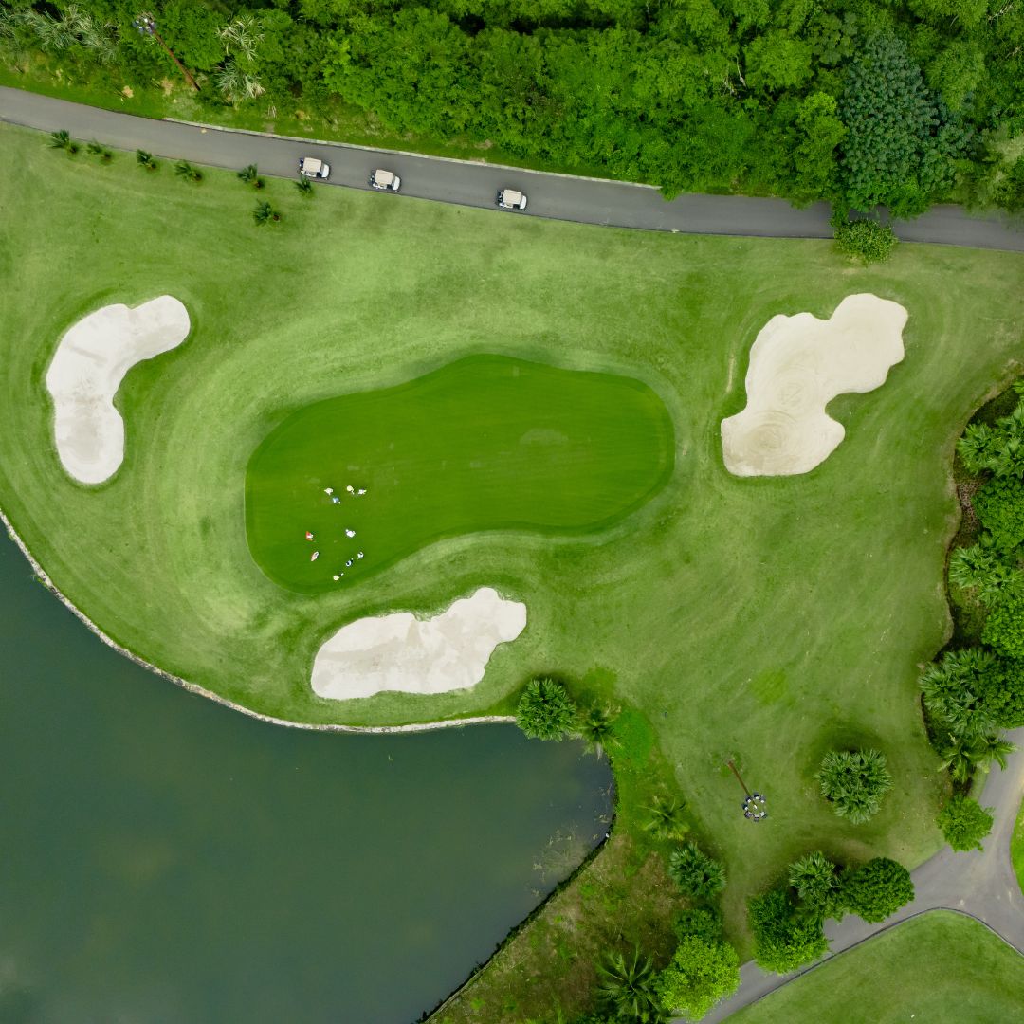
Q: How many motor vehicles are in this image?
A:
3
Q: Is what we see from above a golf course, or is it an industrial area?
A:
golf course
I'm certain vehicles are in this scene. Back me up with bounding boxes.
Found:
[371,171,402,197]
[301,156,333,182]
[497,190,529,215]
